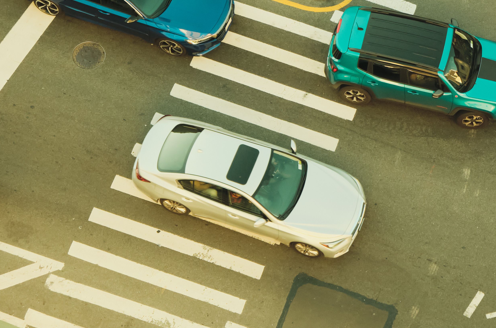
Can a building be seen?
No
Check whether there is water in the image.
No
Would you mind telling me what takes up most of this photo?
paved ground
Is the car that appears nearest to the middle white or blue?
white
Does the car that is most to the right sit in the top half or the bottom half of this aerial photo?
top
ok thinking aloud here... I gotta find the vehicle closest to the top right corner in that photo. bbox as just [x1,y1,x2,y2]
[322,2,496,130]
